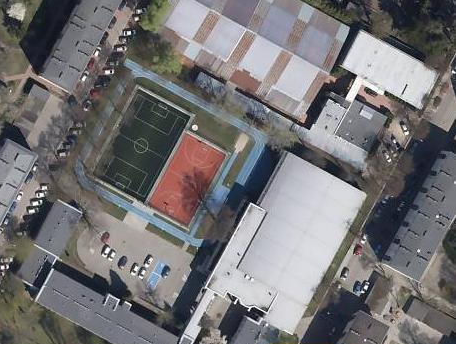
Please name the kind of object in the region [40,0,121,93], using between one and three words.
building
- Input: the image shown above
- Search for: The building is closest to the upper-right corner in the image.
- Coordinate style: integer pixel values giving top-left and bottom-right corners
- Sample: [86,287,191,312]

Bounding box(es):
[342,31,439,109]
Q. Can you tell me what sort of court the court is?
basketball court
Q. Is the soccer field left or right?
left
